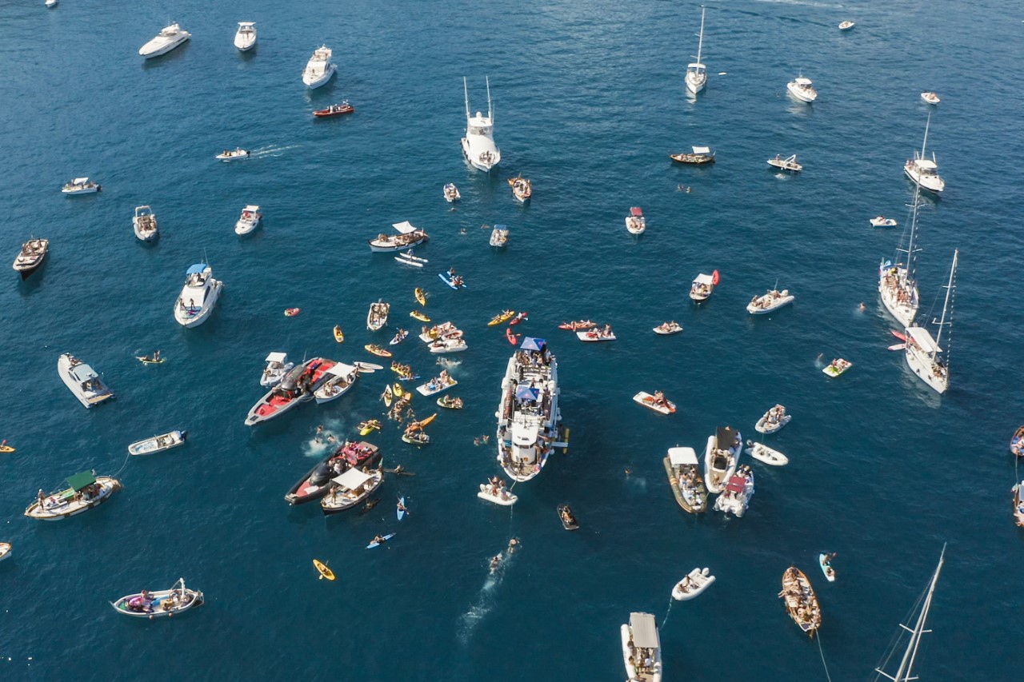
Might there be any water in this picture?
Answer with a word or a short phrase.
Yes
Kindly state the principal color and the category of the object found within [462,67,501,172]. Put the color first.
white boat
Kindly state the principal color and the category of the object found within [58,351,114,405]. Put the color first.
white boat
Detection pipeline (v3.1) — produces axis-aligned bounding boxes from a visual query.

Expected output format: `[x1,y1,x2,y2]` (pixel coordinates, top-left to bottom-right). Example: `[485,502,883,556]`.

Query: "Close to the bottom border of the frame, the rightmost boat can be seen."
[851,553,944,682]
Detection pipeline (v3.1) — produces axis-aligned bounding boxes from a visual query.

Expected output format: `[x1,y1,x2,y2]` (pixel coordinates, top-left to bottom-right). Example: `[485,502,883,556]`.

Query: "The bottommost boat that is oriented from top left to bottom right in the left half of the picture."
[313,558,335,579]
